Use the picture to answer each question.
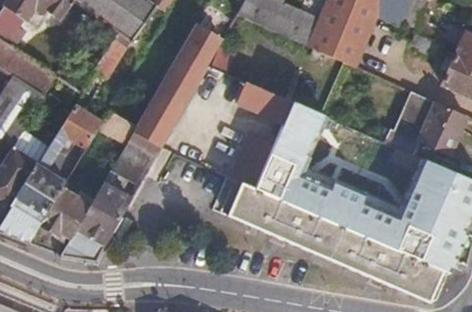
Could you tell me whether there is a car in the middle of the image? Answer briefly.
Yes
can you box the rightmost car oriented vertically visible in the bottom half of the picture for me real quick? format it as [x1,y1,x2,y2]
[294,260,307,284]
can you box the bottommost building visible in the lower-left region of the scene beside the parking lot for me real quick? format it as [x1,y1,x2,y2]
[63,233,102,258]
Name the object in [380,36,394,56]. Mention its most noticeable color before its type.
white car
